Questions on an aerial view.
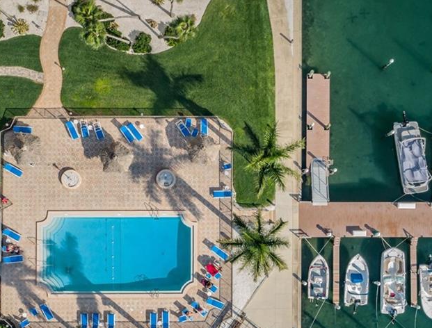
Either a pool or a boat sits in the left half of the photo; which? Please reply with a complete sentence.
The feature located in the left half of the photo is a pool.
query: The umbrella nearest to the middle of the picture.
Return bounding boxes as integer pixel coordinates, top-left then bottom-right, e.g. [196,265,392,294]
[186,130,220,169]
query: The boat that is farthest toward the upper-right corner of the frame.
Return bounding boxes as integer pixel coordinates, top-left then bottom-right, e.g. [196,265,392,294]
[394,113,432,193]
